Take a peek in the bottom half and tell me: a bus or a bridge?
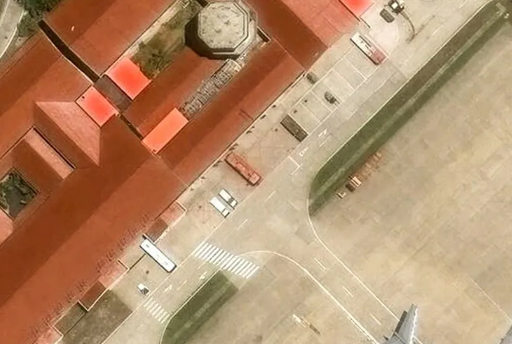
bus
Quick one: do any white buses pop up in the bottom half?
Yes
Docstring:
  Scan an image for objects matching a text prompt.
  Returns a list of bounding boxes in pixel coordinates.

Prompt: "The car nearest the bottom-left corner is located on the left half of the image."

[137,282,151,296]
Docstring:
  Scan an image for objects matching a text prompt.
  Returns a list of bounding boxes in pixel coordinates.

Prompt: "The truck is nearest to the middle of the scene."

[225,153,259,185]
